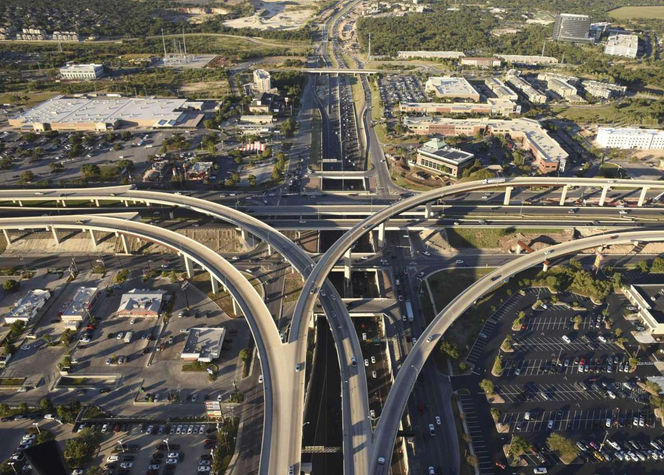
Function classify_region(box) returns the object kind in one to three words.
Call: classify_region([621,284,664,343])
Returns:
building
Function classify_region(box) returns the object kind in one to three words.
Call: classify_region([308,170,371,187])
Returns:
bridge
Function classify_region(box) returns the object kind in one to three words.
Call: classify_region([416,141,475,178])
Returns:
building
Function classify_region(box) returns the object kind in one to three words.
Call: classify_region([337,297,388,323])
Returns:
bridge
